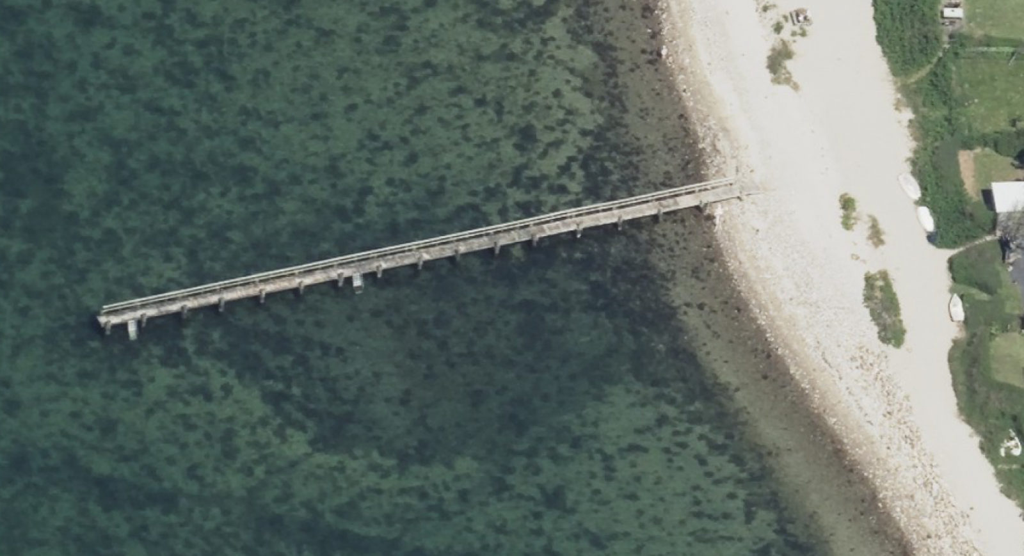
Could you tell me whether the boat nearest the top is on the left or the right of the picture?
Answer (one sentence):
The boat nearest the top is on the right side of the image.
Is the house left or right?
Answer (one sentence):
You can find the house on the right side of the picture.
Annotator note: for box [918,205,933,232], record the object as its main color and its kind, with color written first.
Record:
white boat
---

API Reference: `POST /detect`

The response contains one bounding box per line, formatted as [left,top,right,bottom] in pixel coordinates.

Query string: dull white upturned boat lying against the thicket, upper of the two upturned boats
[899,171,922,200]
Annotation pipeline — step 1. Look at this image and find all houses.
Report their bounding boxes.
[994,181,1024,220]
